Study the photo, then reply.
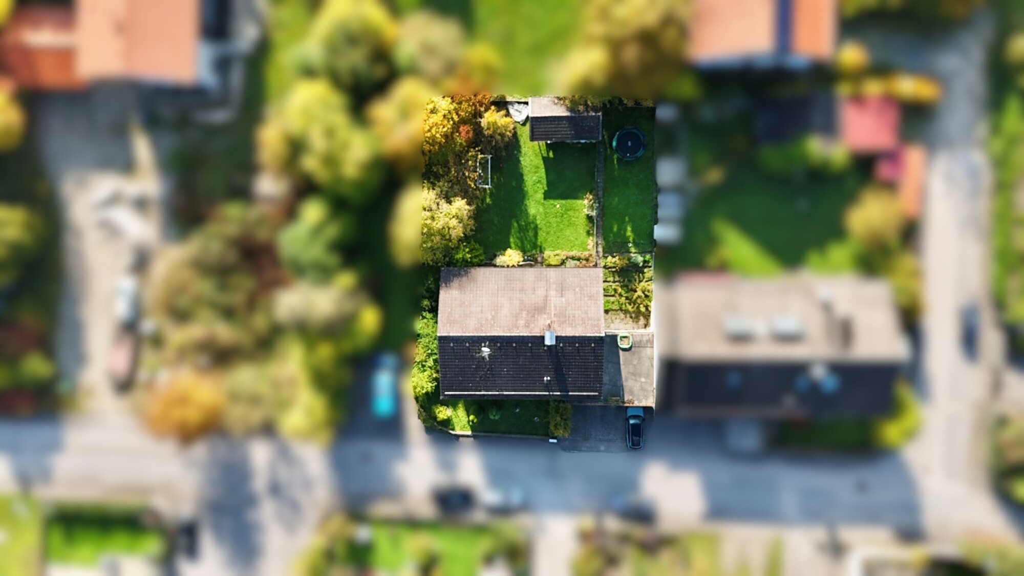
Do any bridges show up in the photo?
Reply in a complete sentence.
No, the frame has no bridge in it.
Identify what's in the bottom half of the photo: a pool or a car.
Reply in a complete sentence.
You can see a car in the bottom half of the photo.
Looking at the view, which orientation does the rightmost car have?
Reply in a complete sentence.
What the image shows is the rightmost car lying up and down.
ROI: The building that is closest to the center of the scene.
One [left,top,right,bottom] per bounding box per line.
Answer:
[438,266,605,400]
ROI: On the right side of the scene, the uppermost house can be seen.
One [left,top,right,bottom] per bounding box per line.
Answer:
[681,0,841,75]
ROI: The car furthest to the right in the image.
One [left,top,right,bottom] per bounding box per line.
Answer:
[957,308,980,352]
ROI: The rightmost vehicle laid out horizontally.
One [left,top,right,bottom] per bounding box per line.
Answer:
[615,496,658,517]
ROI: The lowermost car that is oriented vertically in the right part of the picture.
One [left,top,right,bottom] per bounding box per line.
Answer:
[625,408,646,450]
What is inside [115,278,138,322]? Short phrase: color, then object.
white car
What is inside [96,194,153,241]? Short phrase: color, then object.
white camper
